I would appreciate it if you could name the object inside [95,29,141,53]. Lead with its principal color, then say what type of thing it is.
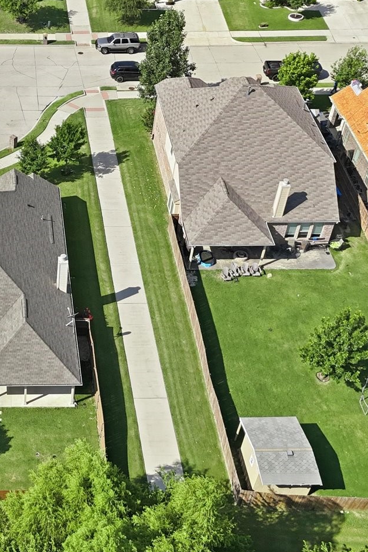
gray car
